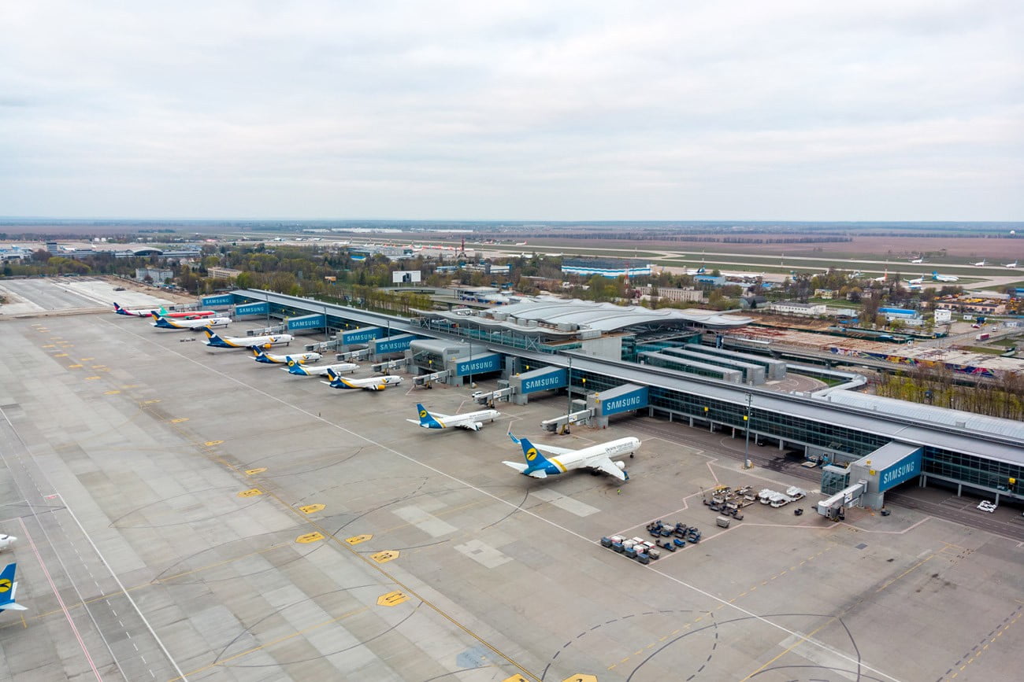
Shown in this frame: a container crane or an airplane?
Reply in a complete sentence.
This aerial view contains an airplane.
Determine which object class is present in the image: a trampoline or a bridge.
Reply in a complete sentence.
It is a bridge that can be seen here.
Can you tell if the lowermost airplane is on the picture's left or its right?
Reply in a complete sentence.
It is on the left.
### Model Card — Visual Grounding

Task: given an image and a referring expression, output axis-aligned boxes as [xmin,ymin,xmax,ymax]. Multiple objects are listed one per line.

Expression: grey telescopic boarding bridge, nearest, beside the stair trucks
[818,475,871,523]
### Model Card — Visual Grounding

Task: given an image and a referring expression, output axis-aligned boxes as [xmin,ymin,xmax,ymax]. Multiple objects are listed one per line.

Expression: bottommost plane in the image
[0,564,24,615]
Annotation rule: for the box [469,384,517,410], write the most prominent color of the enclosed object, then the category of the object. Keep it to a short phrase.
gray jet bridge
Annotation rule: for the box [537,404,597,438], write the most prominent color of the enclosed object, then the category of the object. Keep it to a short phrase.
gray jet bridge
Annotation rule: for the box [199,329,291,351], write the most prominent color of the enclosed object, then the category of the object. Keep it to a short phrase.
white airplane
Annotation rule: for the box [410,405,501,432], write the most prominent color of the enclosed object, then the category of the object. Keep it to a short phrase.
white airplane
